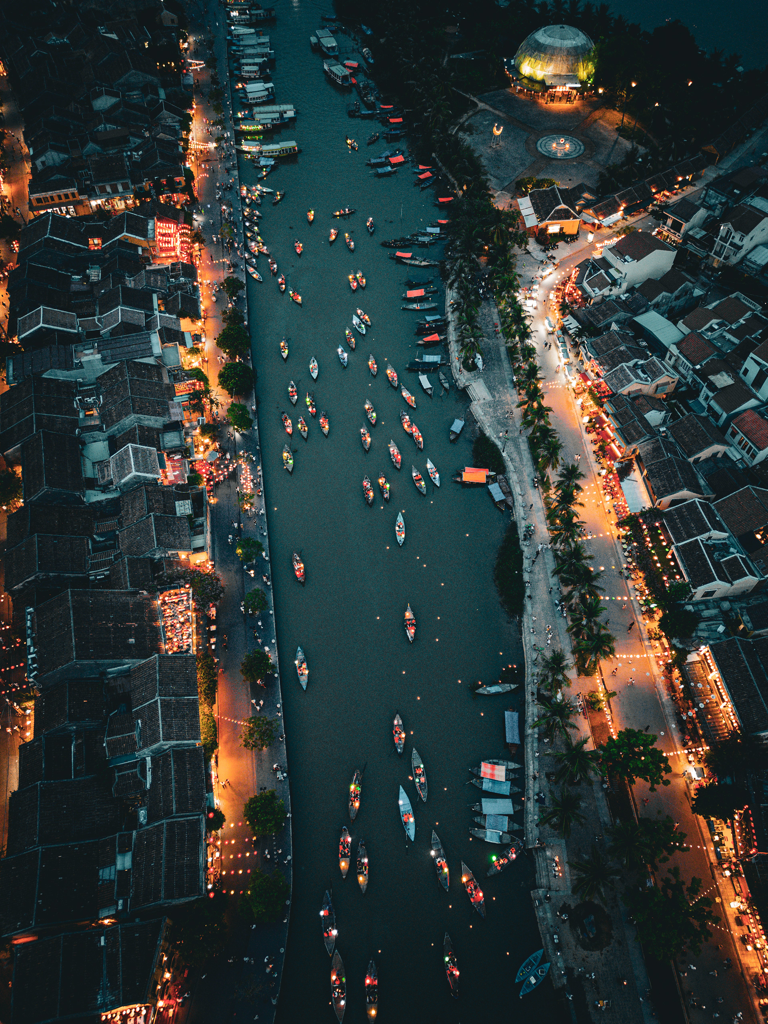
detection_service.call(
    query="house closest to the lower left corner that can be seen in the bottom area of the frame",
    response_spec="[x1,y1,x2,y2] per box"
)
[10,929,114,1024]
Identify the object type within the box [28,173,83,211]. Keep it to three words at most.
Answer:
house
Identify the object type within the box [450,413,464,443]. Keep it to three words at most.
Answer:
boat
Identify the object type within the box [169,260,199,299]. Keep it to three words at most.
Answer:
house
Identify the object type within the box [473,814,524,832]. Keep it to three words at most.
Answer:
boat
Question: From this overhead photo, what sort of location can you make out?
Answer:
residential area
